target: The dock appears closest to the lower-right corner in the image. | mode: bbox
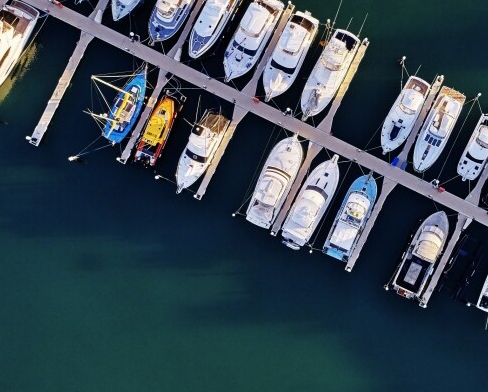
[420,212,472,310]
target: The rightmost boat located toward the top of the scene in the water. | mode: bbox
[459,112,488,180]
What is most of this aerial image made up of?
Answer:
water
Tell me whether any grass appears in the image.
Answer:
No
